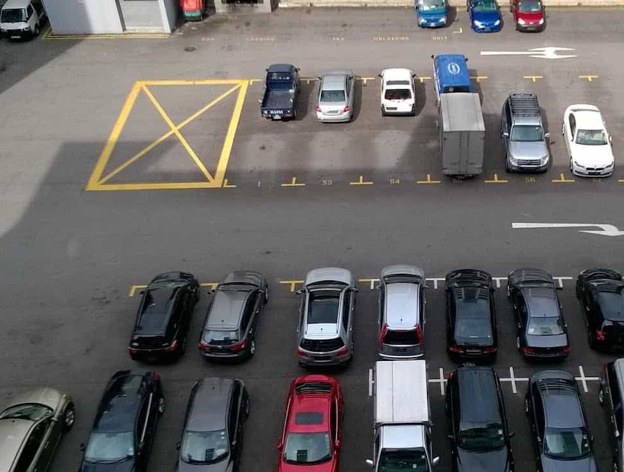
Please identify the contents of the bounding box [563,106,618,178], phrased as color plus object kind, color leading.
white car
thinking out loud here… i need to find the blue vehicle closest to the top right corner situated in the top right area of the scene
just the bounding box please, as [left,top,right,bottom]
[469,0,505,32]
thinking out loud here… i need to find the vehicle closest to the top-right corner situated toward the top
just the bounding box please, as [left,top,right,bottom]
[510,0,548,32]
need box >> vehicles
[165,376,249,472]
[296,267,357,365]
[194,270,269,364]
[373,268,433,363]
[445,368,519,472]
[599,362,624,472]
[0,0,50,39]
[71,371,166,472]
[469,0,505,32]
[578,267,624,354]
[378,70,417,116]
[439,268,500,362]
[366,363,441,472]
[123,270,201,363]
[314,67,357,122]
[510,0,548,32]
[0,390,78,472]
[415,0,450,27]
[563,106,618,178]
[525,370,606,472]
[257,63,302,119]
[508,267,573,360]
[430,56,487,176]
[271,375,346,472]
[501,88,551,170]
